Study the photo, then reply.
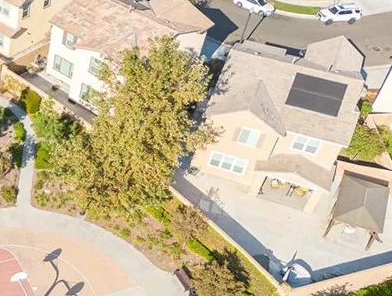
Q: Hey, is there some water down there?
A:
No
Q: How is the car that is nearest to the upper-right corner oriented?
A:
from left to right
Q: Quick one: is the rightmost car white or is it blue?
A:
white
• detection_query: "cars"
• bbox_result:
[320,2,366,25]
[235,0,276,16]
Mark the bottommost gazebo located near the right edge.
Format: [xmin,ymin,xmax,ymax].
[324,177,390,254]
